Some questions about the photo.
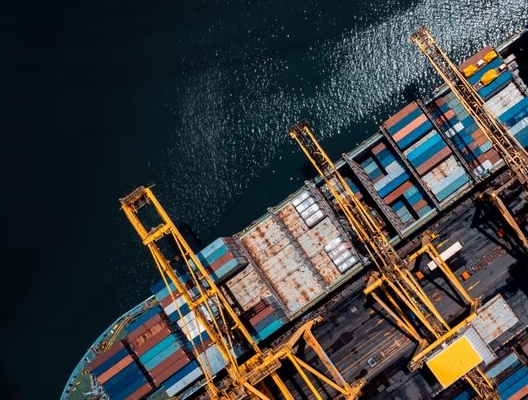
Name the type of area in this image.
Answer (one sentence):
It's a port.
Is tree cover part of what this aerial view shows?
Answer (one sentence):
No, tree cover can't be seen anywhere here.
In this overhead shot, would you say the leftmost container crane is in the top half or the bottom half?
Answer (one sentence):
It is in the bottom half that the leftmost container crane appears.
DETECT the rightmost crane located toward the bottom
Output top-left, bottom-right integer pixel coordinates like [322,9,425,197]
[285,121,506,400]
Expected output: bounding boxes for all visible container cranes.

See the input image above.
[117,181,364,400]
[407,24,528,260]
[285,121,506,400]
